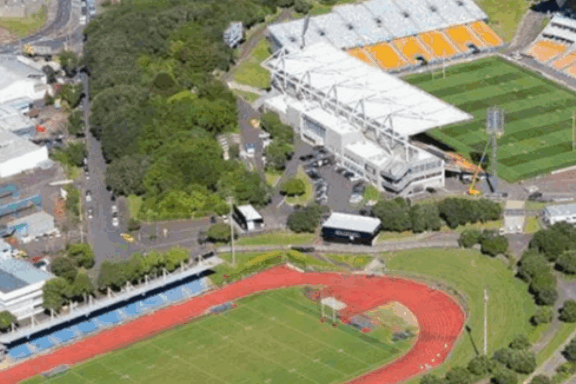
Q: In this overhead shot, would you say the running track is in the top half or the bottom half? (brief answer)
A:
bottom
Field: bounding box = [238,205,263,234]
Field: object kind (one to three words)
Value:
building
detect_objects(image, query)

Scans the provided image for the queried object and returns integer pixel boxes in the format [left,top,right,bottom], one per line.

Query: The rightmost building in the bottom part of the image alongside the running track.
[323,213,380,249]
